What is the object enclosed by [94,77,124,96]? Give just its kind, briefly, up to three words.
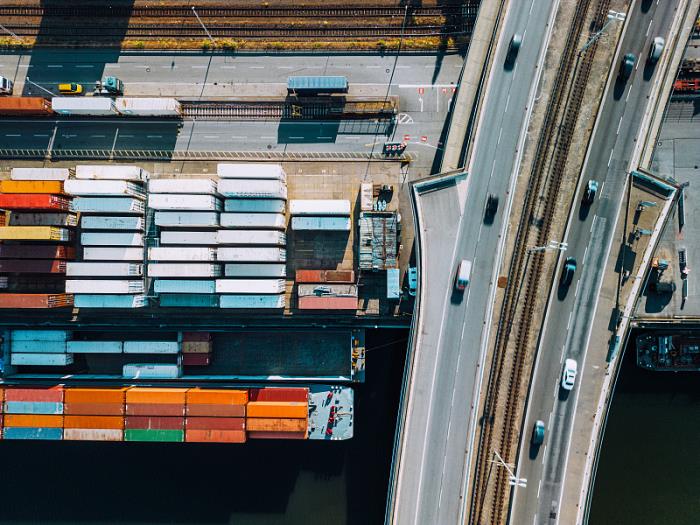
vehicle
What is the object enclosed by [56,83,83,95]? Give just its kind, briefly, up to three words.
vehicle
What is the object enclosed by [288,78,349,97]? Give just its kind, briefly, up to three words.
trailer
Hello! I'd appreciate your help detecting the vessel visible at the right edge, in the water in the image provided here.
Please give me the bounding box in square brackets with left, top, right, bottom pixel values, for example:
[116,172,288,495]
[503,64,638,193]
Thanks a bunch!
[632,333,700,371]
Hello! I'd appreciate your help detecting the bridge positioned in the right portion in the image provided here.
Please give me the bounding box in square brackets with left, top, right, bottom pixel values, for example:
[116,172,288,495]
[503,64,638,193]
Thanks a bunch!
[383,0,694,525]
